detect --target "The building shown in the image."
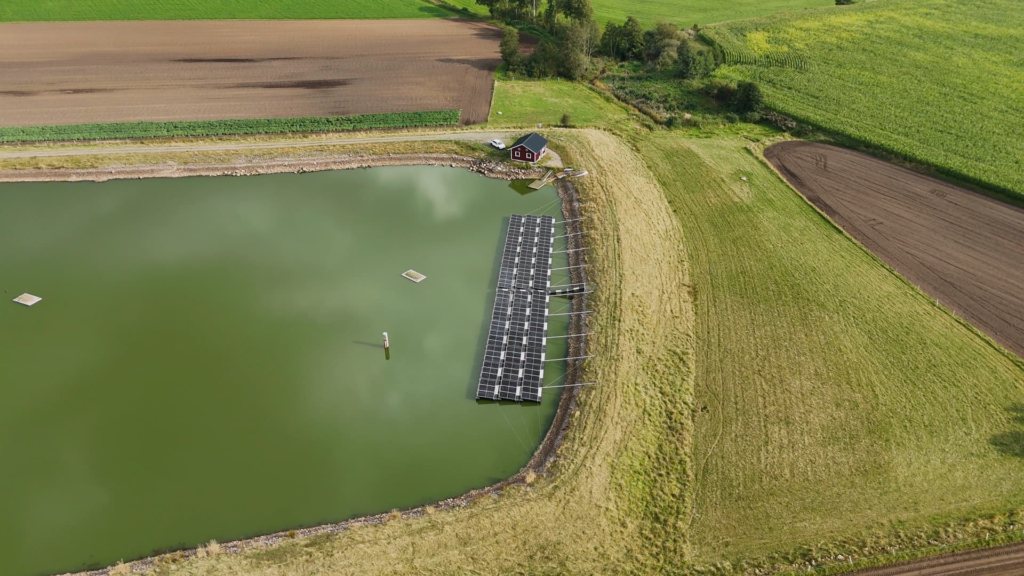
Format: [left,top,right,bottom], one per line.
[509,135,543,163]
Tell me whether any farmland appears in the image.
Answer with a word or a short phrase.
Yes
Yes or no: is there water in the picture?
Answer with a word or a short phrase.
Yes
